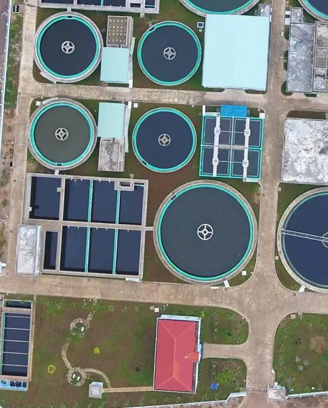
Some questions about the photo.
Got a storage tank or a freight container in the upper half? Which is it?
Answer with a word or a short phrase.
storage tank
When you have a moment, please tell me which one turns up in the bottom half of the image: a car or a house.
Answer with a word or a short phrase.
house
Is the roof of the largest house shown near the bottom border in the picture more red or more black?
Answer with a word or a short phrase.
red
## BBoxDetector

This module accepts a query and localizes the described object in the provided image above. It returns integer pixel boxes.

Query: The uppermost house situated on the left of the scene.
[100,37,136,83]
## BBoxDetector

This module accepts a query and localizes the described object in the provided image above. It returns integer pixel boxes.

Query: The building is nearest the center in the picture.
[97,103,130,150]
